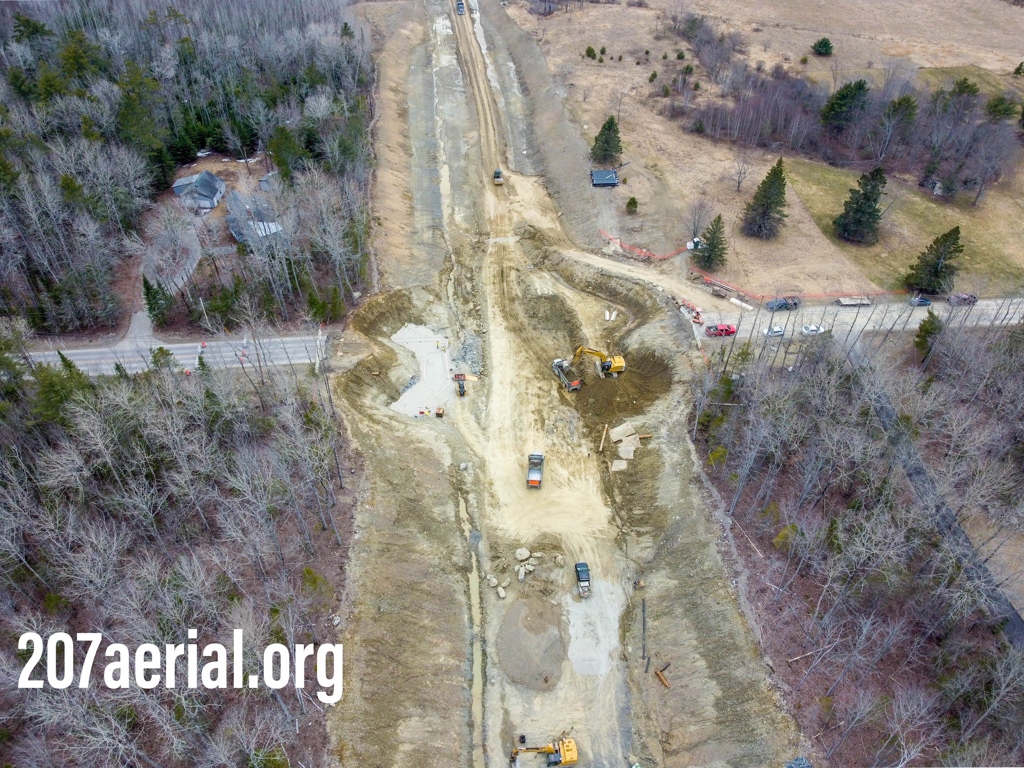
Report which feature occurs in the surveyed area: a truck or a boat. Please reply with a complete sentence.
The one in the frame is a truck.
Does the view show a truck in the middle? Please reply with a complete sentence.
Yes, a truck shows up in the middle.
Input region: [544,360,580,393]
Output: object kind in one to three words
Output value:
truck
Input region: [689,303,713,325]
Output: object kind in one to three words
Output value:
work vehicle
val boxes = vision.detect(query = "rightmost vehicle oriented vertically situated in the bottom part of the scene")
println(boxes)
[575,560,593,596]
